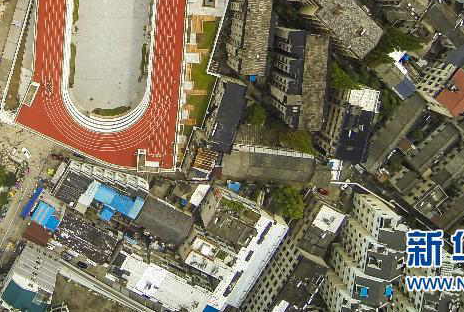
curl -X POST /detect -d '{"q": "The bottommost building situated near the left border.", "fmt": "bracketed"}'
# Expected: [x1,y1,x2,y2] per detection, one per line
[2,279,52,312]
